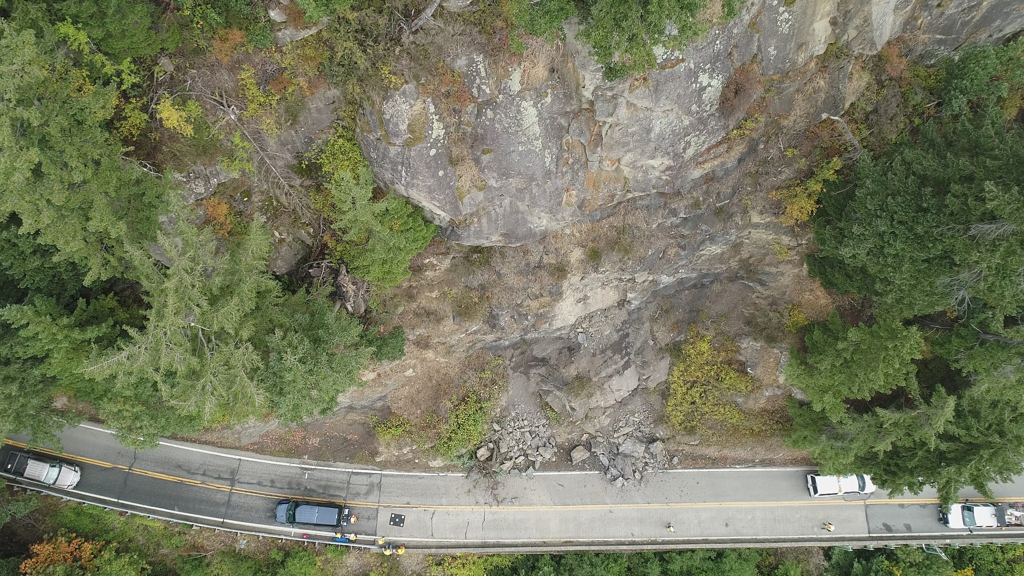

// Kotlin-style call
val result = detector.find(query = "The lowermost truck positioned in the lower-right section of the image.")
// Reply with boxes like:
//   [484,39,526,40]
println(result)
[937,501,1024,536]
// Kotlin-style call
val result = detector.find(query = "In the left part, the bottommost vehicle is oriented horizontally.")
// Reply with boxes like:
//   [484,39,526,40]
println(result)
[275,497,352,529]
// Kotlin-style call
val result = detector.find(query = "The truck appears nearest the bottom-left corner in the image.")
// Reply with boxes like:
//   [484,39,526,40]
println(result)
[1,448,85,489]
